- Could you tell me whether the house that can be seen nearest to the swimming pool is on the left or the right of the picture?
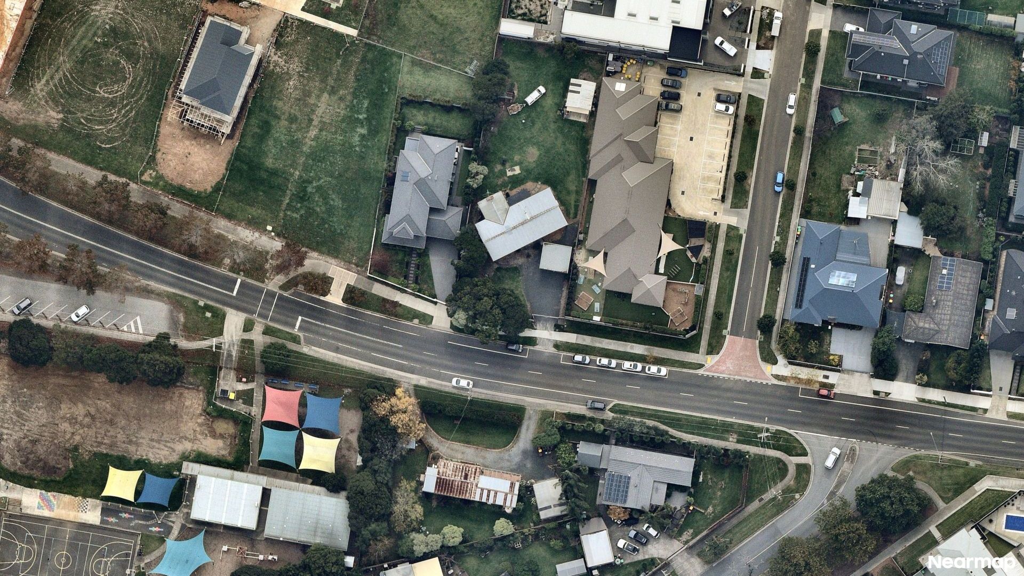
right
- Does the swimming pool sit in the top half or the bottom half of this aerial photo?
bottom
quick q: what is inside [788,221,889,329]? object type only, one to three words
house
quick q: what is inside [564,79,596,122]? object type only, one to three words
shed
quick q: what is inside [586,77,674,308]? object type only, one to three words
building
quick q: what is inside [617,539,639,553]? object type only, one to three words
vehicle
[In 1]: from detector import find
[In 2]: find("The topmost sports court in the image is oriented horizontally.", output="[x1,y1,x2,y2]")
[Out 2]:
[100,500,175,535]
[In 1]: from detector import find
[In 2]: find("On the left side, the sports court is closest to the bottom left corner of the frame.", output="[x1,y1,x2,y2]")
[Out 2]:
[0,510,140,576]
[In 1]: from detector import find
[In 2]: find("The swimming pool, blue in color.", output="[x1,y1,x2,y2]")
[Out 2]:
[1002,512,1024,535]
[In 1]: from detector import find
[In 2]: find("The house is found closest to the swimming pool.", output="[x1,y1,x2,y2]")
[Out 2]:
[913,528,1005,576]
